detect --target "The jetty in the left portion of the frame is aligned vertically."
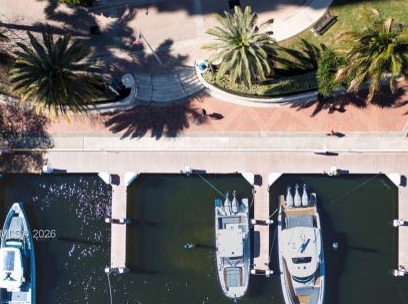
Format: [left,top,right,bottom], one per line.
[97,173,139,272]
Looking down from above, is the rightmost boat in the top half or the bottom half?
bottom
